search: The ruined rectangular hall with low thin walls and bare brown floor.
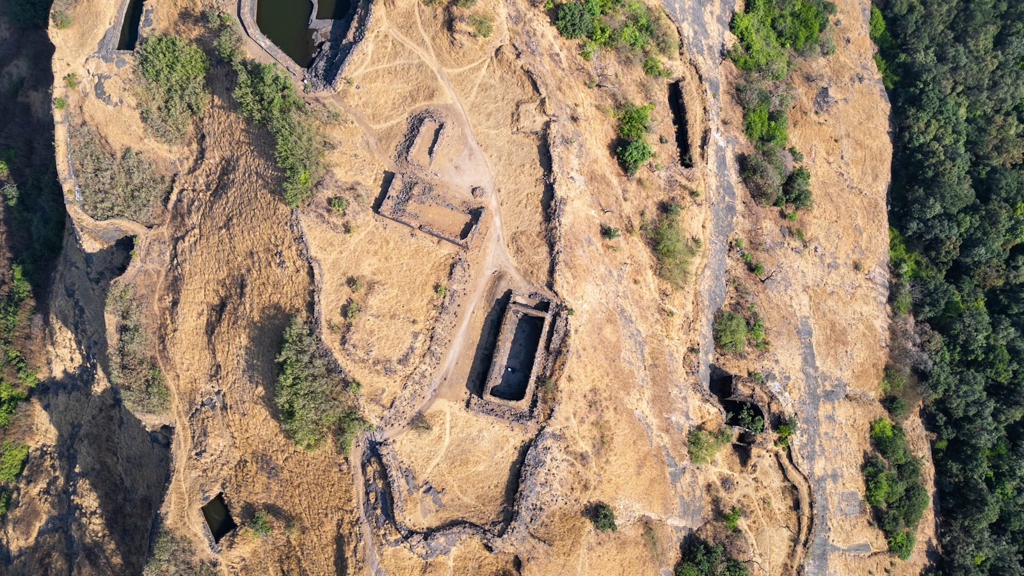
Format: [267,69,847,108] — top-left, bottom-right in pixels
[378,171,486,251]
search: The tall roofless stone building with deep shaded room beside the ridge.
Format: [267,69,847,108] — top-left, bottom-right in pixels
[470,292,566,423]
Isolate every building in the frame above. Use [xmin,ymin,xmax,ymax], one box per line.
[378,171,486,251]
[470,292,566,423]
